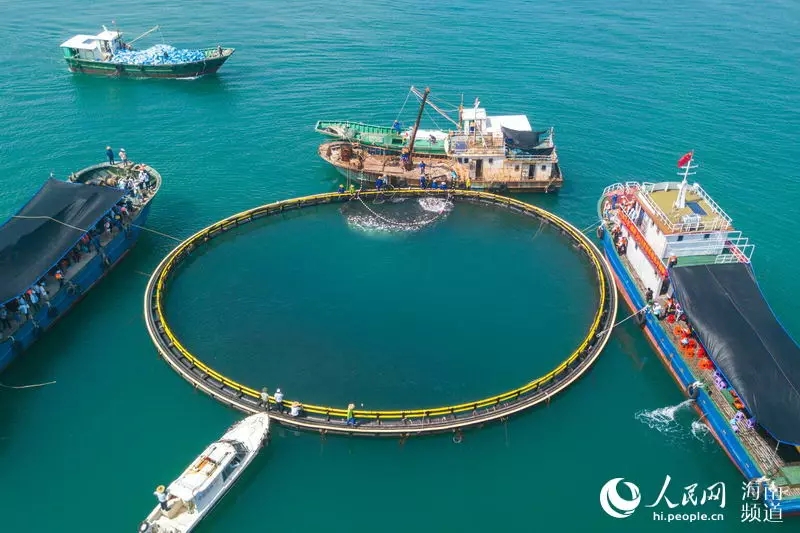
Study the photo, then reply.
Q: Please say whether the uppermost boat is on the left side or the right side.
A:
left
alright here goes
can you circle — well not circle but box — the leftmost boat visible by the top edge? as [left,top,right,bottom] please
[55,12,238,80]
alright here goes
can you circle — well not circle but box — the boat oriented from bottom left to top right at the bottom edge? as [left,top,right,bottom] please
[145,408,275,533]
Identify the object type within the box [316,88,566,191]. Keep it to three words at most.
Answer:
boat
